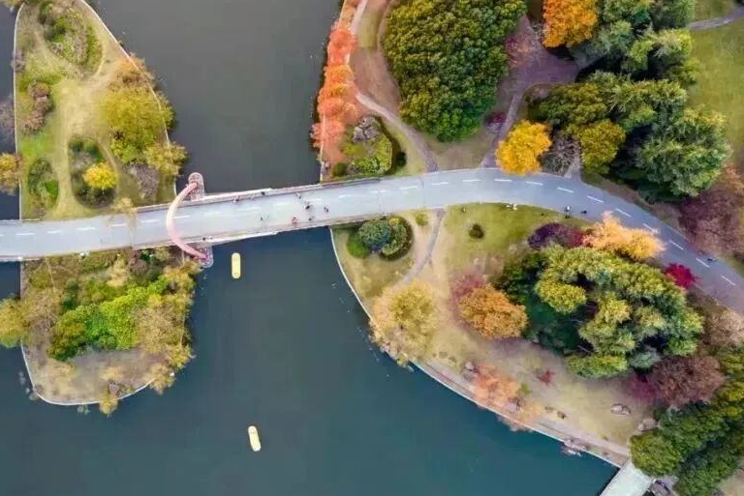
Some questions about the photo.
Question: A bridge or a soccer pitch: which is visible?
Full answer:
This aerial view contains a bridge.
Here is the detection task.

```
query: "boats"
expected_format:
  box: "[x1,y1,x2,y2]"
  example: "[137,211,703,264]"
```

[247,426,260,451]
[231,252,240,279]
